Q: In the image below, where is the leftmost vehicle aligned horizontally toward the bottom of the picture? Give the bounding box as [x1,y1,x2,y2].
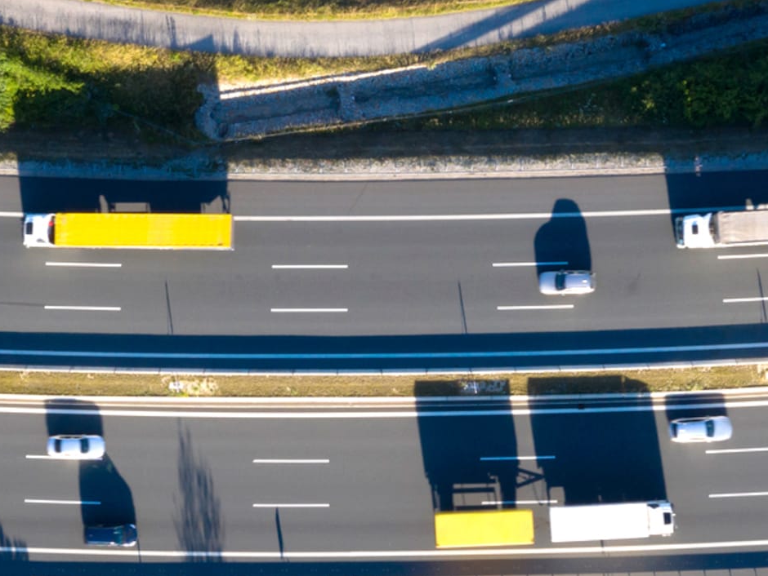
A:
[48,434,106,461]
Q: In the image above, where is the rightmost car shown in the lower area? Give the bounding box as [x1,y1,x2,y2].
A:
[672,415,733,442]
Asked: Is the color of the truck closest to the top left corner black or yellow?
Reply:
yellow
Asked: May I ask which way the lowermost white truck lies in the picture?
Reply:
from side to side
